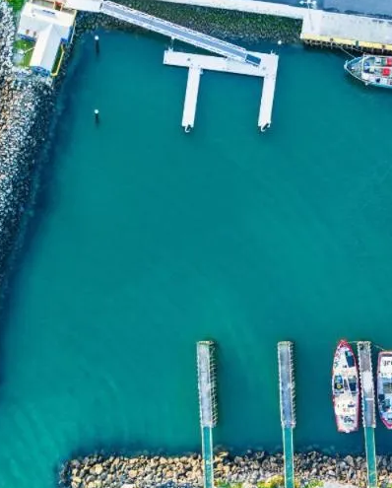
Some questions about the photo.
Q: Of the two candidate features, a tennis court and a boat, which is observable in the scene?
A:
boat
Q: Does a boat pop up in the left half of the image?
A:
No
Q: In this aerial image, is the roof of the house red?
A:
No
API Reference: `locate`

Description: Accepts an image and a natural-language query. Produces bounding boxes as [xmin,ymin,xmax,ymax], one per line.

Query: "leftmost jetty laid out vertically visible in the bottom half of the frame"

[197,339,224,488]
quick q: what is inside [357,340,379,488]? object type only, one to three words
pier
